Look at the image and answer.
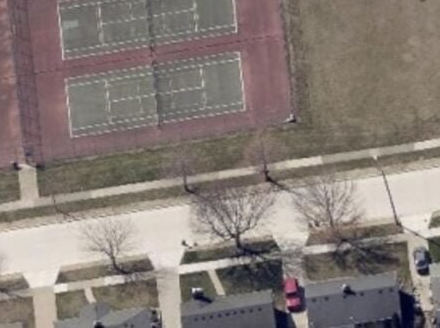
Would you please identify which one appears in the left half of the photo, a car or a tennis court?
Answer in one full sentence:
There is a tennis court in the left half of the photo.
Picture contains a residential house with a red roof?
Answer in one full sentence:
No, there isn't any residential house with a red roof down there.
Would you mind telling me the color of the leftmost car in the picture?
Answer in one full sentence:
In this view, the leftmost car is red.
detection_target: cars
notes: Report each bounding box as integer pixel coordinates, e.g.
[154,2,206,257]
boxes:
[284,278,304,310]
[412,246,430,276]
